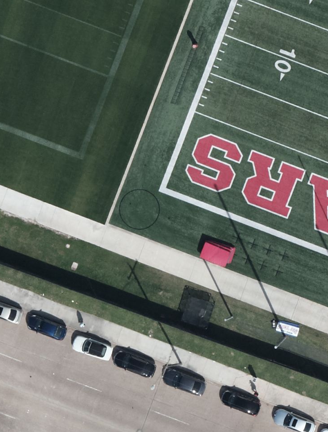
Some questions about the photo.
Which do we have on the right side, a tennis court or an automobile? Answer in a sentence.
It is an automobile that can be seen on the right side.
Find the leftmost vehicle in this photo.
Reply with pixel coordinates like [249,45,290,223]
[0,300,23,324]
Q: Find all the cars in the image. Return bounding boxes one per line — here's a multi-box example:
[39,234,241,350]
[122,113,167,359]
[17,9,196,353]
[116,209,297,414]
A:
[26,312,69,340]
[112,349,158,380]
[162,367,208,396]
[71,334,114,362]
[220,389,263,418]
[272,410,318,432]
[0,300,23,324]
